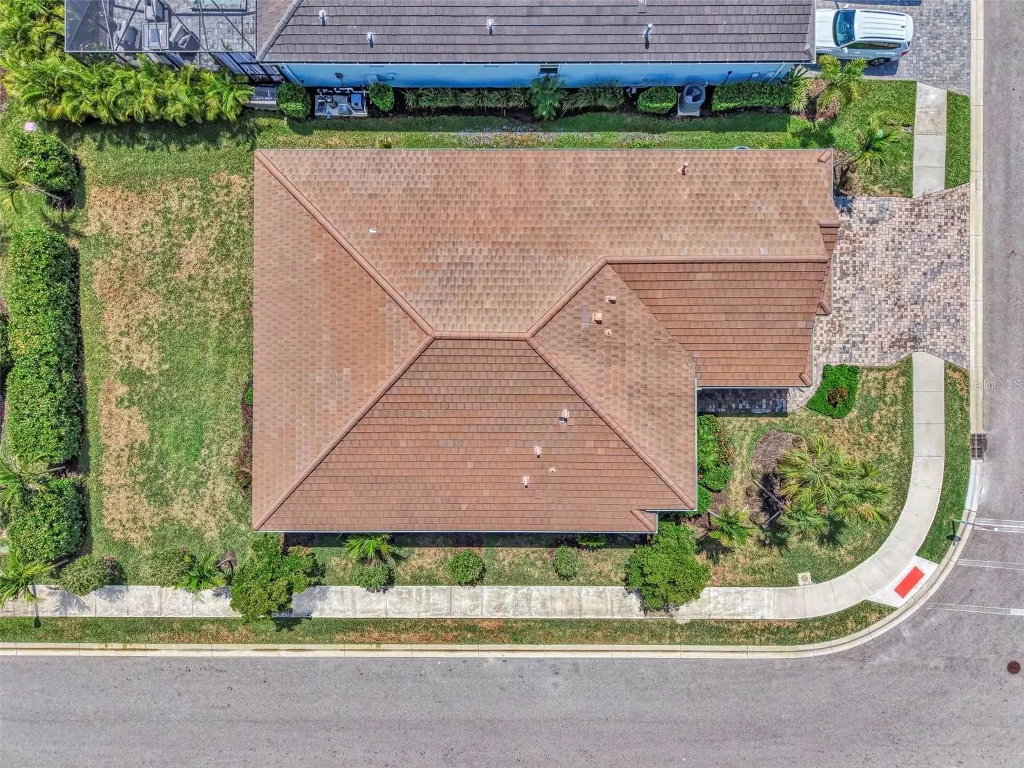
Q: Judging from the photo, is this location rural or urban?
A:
urban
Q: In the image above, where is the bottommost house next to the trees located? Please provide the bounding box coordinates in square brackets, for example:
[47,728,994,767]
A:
[251,146,844,534]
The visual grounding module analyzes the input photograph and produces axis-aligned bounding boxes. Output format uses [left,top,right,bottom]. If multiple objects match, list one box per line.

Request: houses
[251,146,844,534]
[254,0,820,88]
